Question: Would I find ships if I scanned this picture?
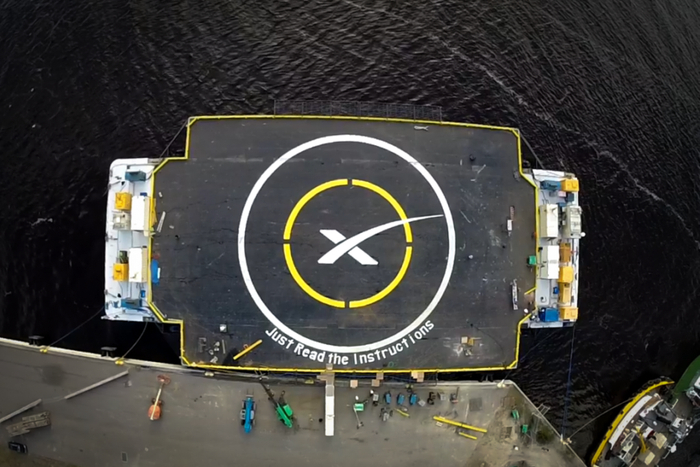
Yes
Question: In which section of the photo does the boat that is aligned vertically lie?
bottom right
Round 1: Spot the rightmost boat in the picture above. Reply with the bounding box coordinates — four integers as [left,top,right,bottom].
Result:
[672,353,700,416]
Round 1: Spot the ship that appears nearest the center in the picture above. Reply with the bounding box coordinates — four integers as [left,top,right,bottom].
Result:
[100,101,582,373]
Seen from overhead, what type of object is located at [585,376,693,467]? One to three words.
boat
